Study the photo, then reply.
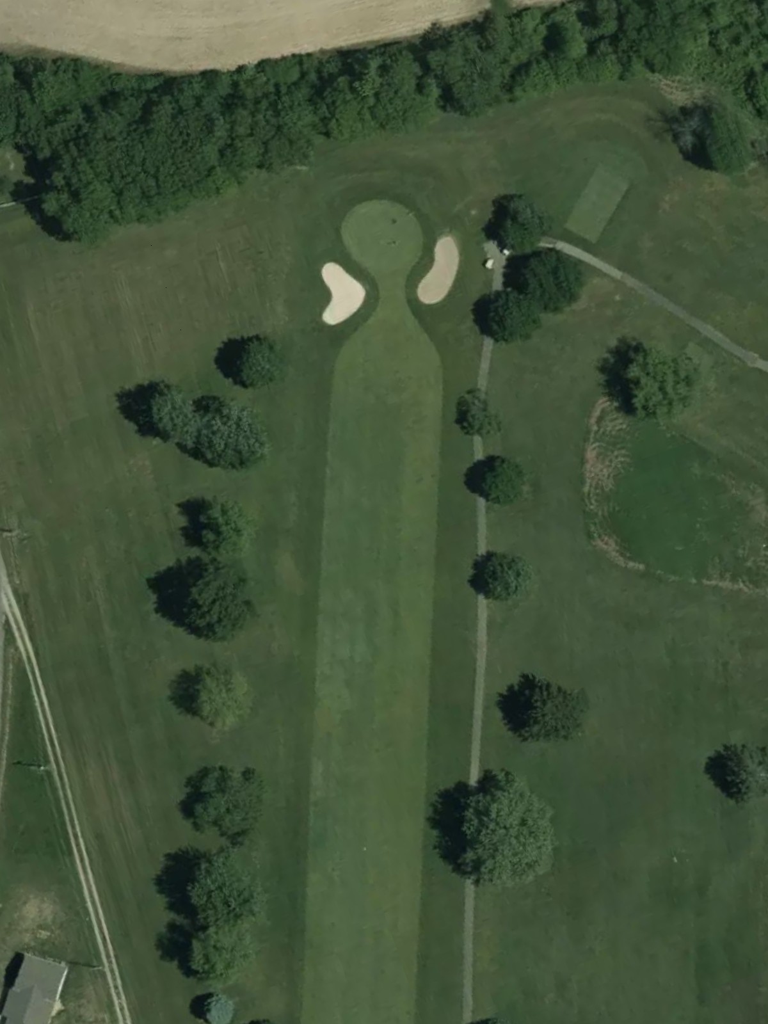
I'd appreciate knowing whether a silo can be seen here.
No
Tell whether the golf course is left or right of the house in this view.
to its right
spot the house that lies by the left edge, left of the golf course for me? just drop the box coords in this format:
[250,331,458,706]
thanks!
[3,953,68,1024]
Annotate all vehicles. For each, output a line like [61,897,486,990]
[502,246,511,256]
[485,257,494,269]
